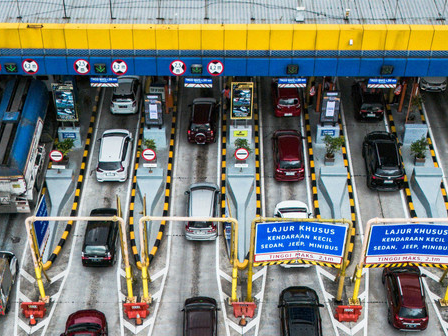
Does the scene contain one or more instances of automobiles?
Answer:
Yes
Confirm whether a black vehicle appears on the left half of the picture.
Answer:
Yes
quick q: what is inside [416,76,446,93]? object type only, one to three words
car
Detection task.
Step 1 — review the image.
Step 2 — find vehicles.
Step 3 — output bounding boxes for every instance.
[271,80,301,117]
[416,76,446,93]
[271,132,306,182]
[279,287,325,336]
[0,74,61,214]
[0,245,24,316]
[186,97,218,142]
[364,134,403,190]
[82,204,120,267]
[97,130,132,182]
[179,293,222,336]
[111,76,142,114]
[382,270,427,332]
[352,78,384,121]
[62,309,107,336]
